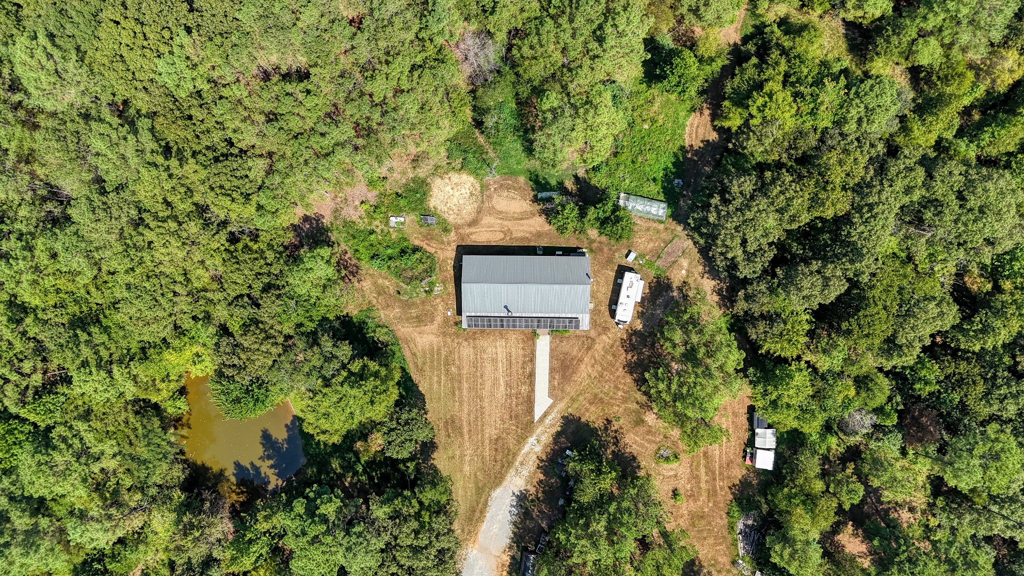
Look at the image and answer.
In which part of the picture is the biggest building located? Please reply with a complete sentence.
You can find the biggest building in the center area of the picture.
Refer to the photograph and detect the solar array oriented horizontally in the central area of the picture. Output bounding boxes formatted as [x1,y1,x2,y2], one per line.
[467,318,580,330]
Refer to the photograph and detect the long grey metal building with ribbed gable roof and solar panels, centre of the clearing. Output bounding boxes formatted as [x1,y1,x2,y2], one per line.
[461,255,594,330]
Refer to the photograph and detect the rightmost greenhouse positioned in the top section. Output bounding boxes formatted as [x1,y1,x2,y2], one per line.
[618,192,669,222]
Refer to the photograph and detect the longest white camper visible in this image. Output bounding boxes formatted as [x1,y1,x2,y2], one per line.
[614,271,643,328]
